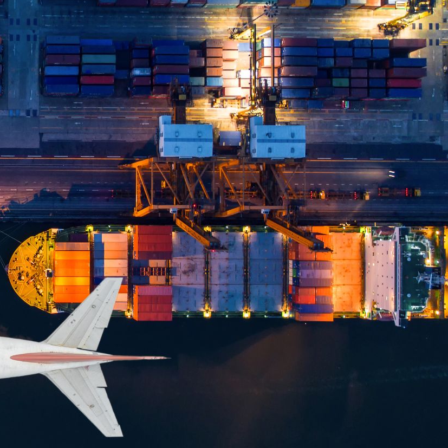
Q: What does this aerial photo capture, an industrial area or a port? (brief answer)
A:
port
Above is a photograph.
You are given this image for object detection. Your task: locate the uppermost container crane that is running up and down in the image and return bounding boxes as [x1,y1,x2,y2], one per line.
[226,24,274,122]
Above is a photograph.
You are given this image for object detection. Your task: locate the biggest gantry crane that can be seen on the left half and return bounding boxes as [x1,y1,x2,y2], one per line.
[109,74,249,251]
